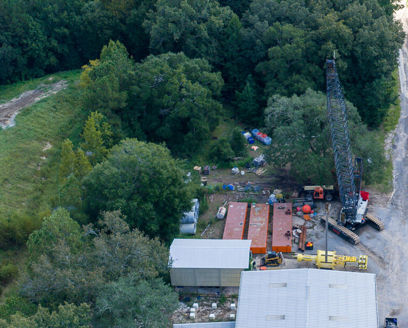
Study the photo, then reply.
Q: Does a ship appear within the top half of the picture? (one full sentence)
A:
No, I see no ship within the top half of the picture.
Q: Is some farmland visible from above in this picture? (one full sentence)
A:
No, there is no farmland in the image.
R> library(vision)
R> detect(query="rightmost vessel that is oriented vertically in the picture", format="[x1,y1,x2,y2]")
[273,203,292,253]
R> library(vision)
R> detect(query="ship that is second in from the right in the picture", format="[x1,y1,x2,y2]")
[248,203,268,254]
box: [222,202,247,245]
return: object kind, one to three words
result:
ship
